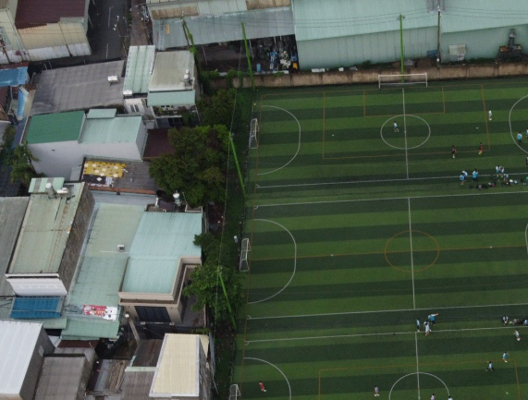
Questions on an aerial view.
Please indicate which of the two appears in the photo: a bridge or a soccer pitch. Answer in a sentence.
It is a soccer pitch that can be seen here.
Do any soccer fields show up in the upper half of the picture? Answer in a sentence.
Yes, the scene does show a soccer field in the upper half of the picture.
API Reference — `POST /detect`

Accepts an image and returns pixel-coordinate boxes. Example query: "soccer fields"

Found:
[234,183,528,329]
[229,316,528,400]
[245,75,528,196]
